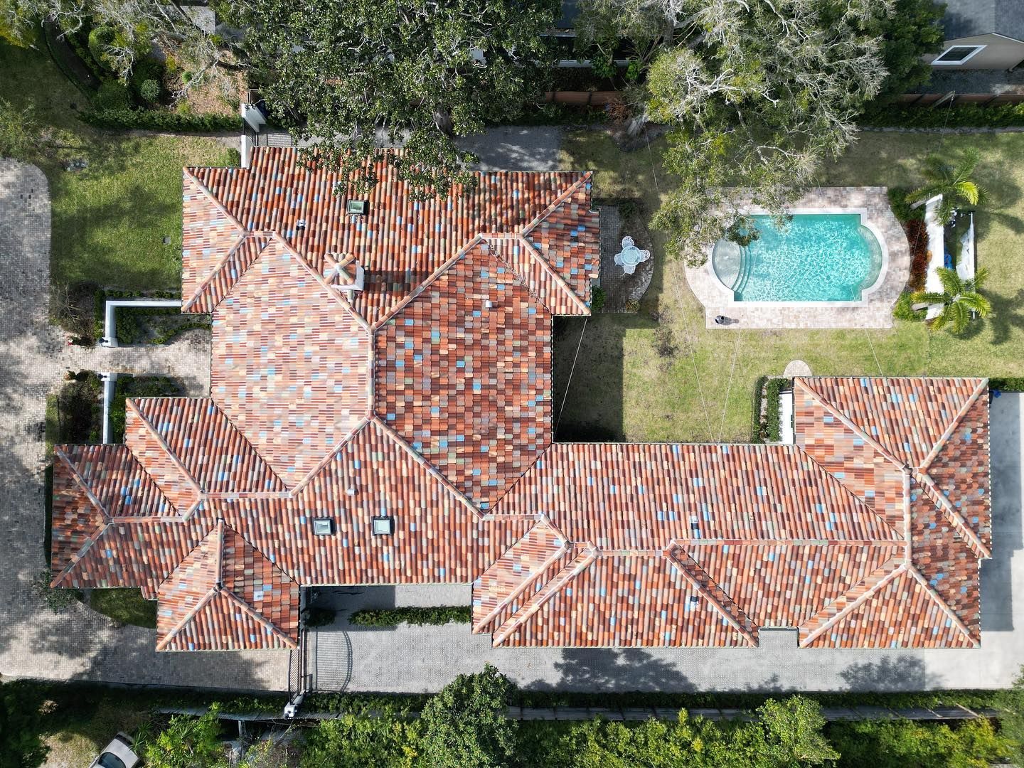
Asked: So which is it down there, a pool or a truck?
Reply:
pool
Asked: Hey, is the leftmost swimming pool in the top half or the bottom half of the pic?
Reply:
top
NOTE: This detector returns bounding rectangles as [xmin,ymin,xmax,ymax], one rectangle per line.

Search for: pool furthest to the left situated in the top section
[706,207,889,308]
